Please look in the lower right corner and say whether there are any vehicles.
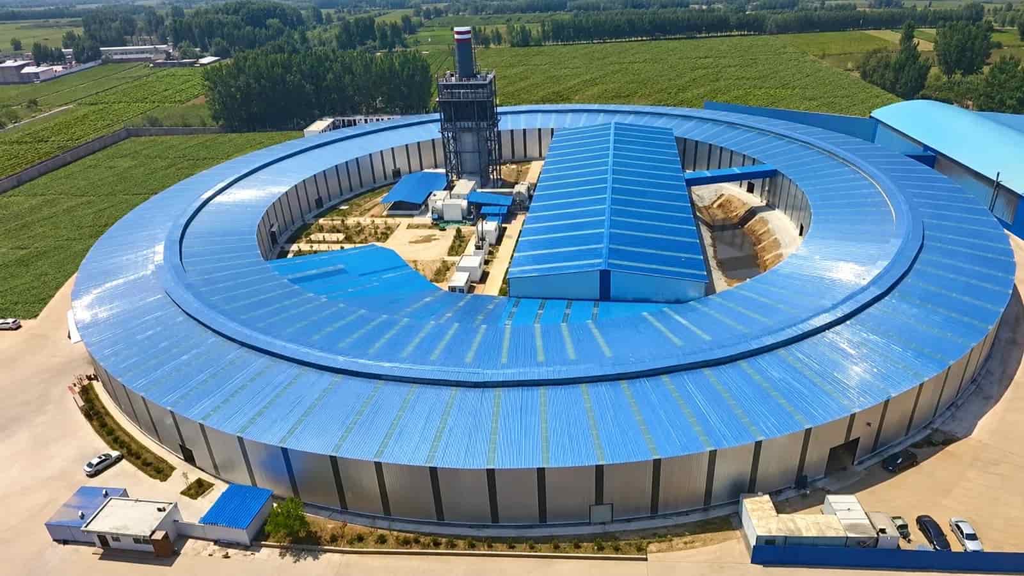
Yes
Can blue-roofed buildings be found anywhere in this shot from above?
Yes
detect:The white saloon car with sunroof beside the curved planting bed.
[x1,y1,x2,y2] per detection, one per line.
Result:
[82,451,123,474]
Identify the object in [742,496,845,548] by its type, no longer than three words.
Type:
building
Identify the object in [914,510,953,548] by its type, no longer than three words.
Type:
car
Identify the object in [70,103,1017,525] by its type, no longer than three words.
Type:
building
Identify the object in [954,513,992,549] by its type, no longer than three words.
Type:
car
